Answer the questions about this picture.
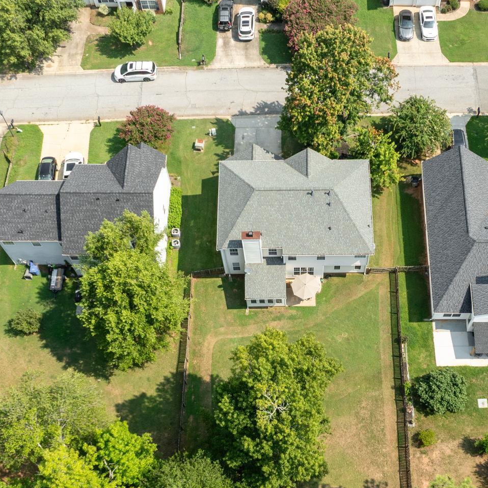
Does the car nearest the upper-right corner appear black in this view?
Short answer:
No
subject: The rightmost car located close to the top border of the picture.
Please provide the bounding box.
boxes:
[419,6,440,42]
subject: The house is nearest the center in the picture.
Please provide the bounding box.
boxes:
[215,144,375,315]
